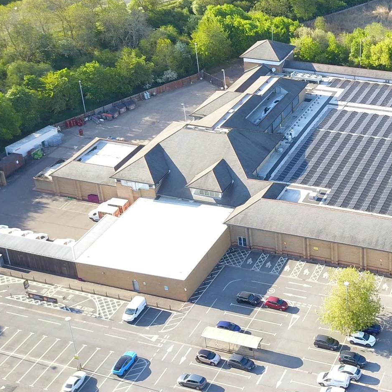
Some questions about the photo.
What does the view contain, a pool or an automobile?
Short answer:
automobile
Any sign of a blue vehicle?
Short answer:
Yes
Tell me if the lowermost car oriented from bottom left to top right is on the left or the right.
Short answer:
left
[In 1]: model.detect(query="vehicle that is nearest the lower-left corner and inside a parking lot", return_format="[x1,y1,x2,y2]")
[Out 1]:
[60,371,89,392]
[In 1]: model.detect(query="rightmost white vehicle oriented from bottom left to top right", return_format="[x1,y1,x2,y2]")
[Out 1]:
[122,294,148,322]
